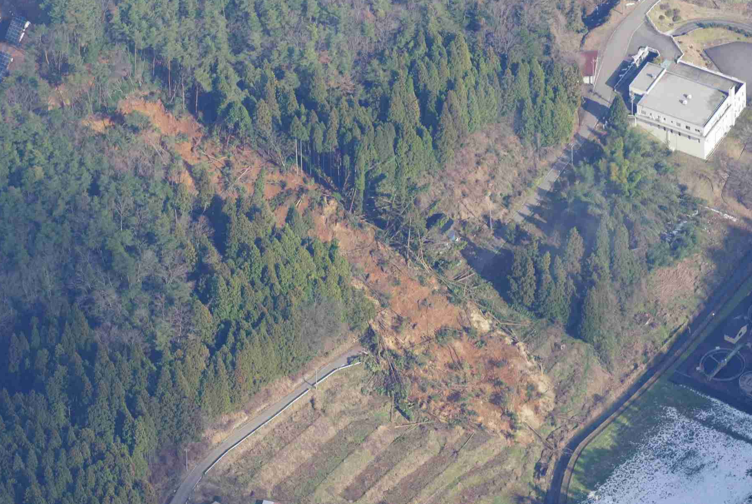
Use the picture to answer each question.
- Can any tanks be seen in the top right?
No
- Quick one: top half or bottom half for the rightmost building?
bottom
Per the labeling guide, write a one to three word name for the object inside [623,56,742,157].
building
